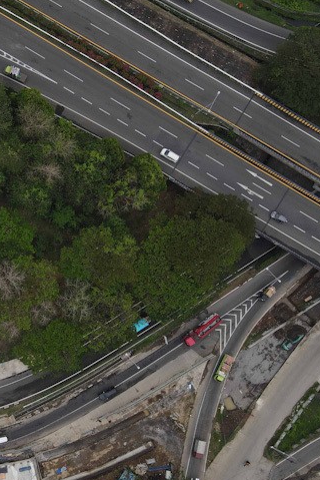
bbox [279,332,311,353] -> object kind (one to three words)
work vehicle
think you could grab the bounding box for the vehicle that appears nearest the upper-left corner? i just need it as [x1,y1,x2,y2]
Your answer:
[2,59,30,82]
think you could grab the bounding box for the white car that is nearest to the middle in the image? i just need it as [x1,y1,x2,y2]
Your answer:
[160,146,183,163]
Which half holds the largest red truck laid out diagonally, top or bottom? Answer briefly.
bottom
